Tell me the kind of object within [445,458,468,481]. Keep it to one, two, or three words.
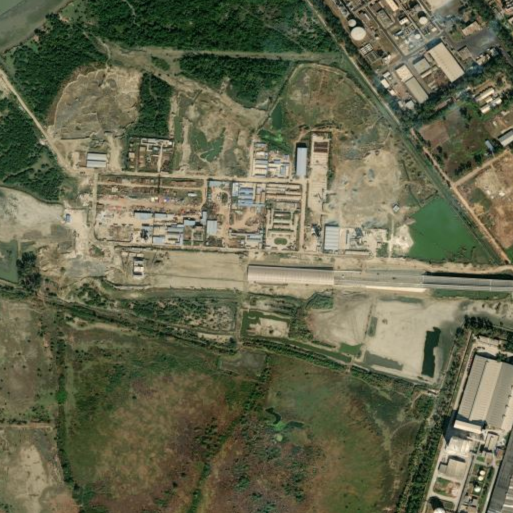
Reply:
building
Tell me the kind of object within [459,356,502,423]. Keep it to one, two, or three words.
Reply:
building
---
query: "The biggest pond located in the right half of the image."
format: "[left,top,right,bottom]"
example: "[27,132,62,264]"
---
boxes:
[409,194,479,261]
